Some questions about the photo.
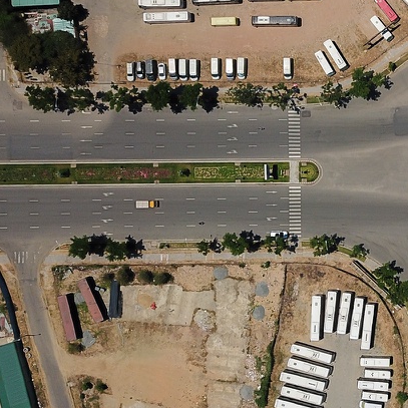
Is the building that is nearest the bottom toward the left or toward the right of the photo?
left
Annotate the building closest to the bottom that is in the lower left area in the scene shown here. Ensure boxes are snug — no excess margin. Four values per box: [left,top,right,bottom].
[0,340,39,408]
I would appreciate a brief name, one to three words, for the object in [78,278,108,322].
shed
